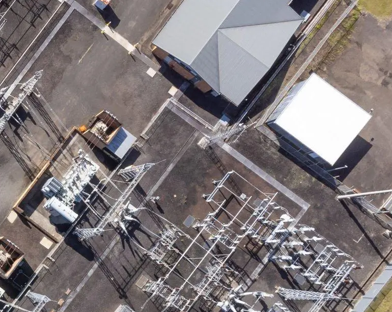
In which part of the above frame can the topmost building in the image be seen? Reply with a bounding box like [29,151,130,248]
[148,0,304,108]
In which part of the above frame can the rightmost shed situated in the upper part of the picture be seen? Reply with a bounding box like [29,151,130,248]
[265,73,372,167]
